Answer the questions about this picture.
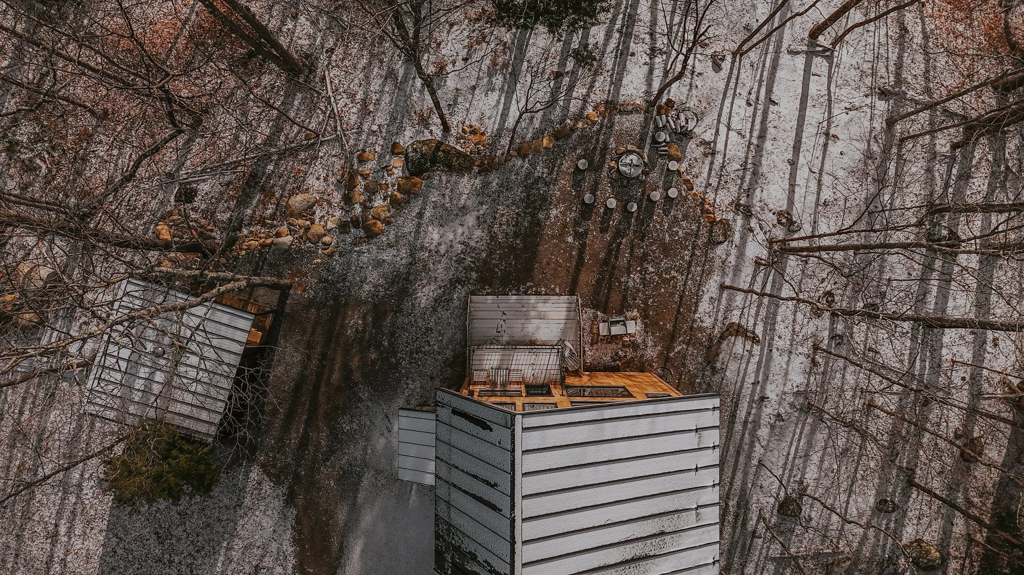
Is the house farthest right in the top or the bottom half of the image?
bottom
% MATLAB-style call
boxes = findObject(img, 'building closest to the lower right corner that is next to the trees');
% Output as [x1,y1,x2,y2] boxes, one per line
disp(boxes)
[399,371,722,575]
